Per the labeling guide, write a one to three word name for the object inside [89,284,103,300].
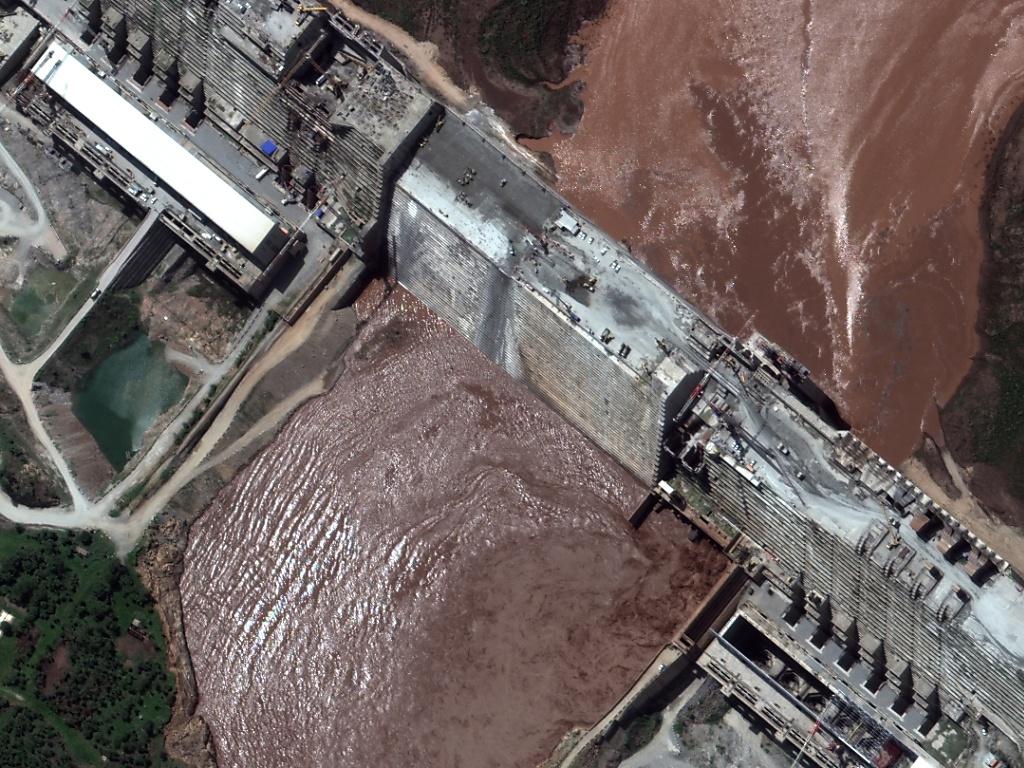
vehicle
